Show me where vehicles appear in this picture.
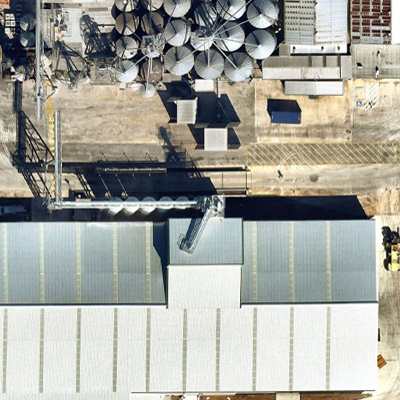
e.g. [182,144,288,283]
[387,230,400,272]
[0,206,25,216]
